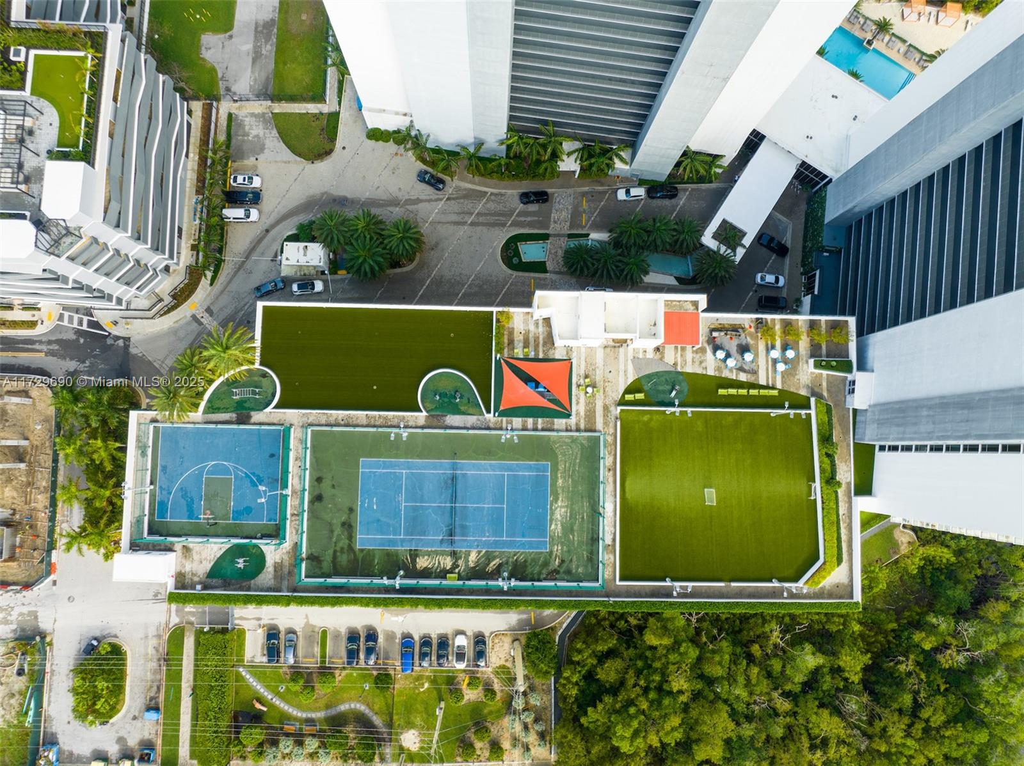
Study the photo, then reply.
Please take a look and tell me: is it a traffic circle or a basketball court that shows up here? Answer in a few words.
basketball court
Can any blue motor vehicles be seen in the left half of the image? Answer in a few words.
Yes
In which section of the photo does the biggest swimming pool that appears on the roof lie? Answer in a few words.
top right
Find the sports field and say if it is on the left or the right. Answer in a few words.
right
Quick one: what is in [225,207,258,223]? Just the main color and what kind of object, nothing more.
white car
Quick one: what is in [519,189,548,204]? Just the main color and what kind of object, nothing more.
black car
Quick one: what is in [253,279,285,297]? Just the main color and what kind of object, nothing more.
blue car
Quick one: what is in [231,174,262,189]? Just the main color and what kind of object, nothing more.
white car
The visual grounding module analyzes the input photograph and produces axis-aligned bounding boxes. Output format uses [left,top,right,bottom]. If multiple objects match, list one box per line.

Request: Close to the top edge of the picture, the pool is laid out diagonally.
[822,26,917,99]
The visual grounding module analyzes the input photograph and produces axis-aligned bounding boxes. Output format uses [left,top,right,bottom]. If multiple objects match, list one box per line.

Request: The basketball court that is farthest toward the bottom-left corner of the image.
[147,427,281,541]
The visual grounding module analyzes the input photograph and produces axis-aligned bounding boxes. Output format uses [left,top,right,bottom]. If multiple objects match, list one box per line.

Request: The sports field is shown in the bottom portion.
[617,397,826,587]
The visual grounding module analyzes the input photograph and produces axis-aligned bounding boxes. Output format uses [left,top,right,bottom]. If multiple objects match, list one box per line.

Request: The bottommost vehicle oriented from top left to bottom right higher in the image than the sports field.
[758,233,787,256]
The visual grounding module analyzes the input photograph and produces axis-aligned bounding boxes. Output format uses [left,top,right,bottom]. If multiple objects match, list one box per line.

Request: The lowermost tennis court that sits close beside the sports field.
[305,431,600,580]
